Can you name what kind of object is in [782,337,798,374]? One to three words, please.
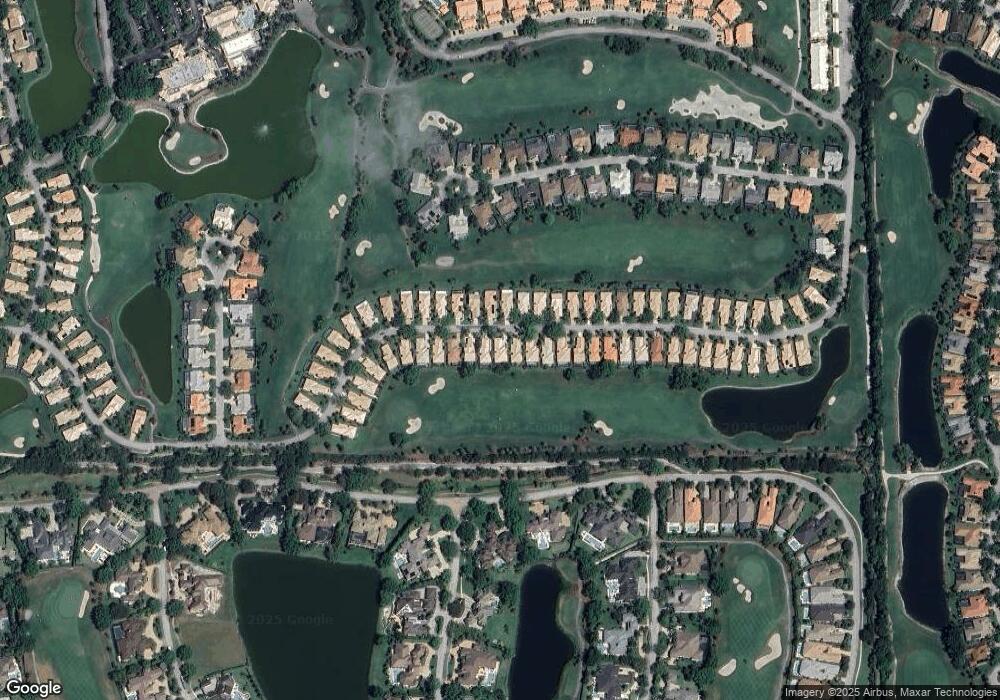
house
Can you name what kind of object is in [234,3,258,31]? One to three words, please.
swimming pool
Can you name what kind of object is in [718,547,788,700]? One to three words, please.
golf course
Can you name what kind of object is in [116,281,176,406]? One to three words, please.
pond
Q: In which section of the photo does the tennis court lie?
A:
top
